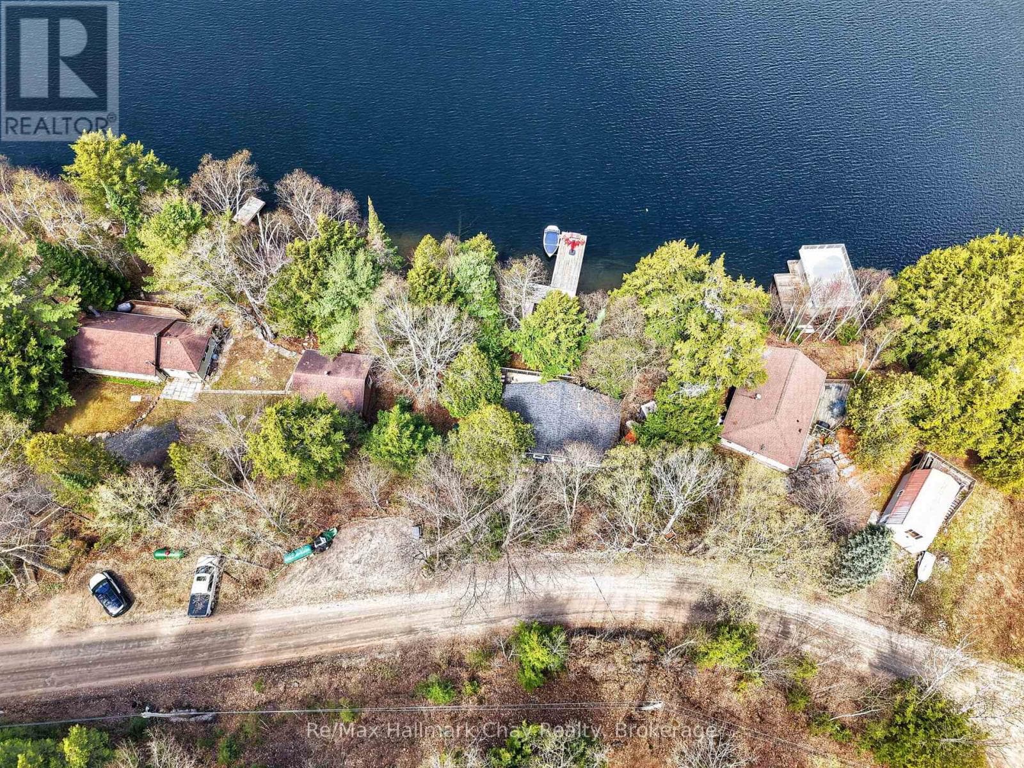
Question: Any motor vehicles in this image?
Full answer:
Yes, looking at the shot, I can spot a motor vehicle.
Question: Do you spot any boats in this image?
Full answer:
Yes, the image includes a boat.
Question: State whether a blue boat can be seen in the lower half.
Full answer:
No, no blue boat can be made out in the lower half.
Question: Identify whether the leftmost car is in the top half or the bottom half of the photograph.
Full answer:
The leftmost car is in the bottom half of the image.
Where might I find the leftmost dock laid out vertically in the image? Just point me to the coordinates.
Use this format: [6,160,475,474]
[552,232,588,295]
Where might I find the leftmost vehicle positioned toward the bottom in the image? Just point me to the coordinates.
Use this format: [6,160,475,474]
[91,574,128,620]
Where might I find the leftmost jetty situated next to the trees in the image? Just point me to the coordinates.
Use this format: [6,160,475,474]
[233,197,269,229]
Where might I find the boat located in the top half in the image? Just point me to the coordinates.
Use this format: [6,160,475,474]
[543,221,559,260]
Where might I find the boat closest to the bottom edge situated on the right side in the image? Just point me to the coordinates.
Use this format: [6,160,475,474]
[912,549,942,599]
